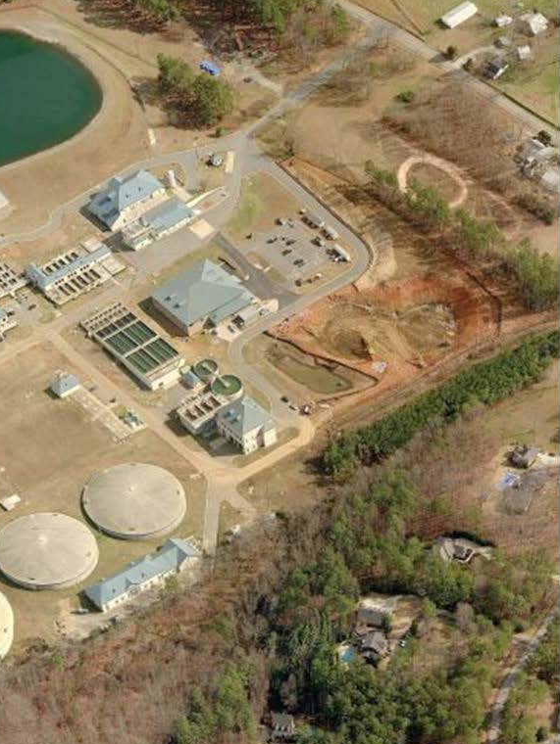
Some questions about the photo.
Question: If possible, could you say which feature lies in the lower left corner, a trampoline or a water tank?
water tank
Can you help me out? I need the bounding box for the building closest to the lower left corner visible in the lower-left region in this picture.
[81,540,192,618]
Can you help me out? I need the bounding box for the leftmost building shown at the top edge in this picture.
[439,5,477,29]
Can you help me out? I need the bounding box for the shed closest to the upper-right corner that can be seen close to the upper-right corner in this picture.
[513,14,550,36]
